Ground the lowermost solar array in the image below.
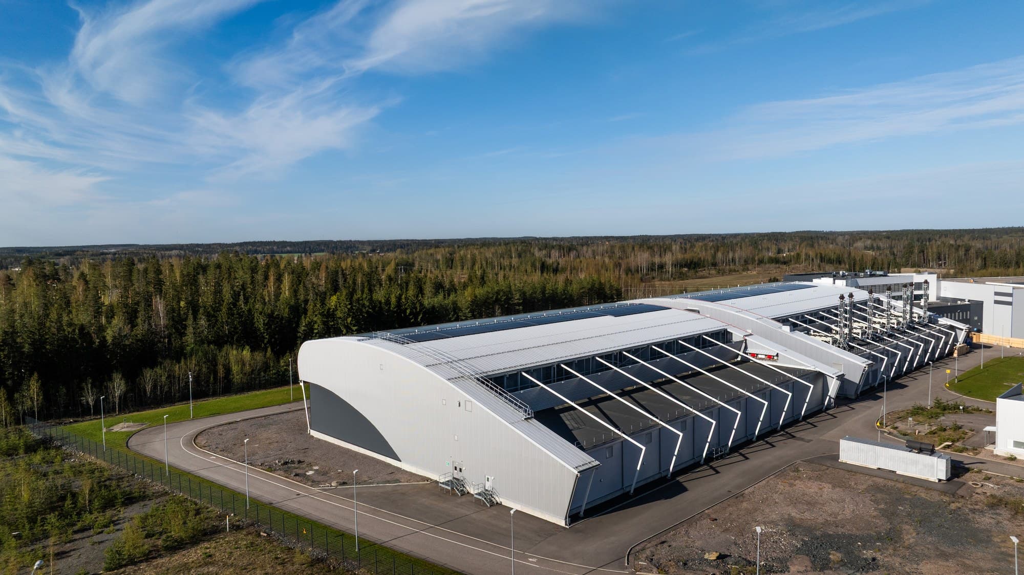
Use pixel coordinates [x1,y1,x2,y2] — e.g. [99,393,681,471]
[396,305,672,341]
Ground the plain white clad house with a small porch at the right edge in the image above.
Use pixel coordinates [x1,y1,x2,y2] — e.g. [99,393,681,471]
[978,369,1024,459]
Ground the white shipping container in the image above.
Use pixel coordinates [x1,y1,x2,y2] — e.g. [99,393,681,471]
[837,436,950,480]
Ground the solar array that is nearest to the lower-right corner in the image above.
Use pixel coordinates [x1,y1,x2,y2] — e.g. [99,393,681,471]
[691,285,825,302]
